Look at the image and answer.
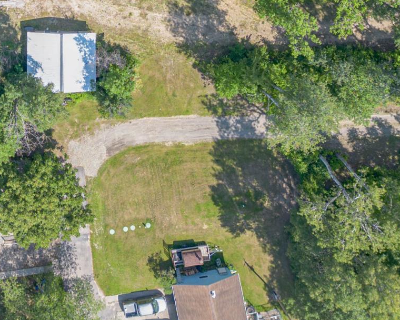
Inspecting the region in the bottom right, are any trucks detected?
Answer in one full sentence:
No, looking in the bottom right, there is no truck.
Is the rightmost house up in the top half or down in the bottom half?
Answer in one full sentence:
The bottom half of the photo is where the rightmost house is.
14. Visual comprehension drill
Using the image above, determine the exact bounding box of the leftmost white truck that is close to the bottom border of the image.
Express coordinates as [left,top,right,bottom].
[123,294,167,319]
